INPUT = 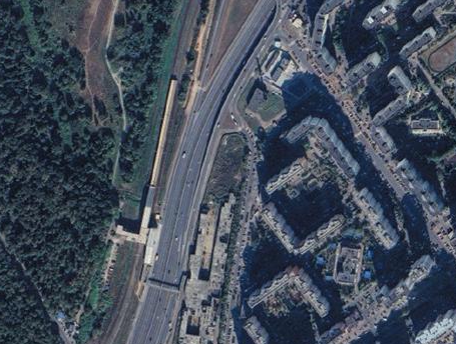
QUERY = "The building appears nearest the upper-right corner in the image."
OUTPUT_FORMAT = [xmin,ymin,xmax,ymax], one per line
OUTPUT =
[414,0,452,20]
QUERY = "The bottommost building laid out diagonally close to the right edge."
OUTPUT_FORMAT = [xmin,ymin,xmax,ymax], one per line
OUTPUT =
[416,304,456,344]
